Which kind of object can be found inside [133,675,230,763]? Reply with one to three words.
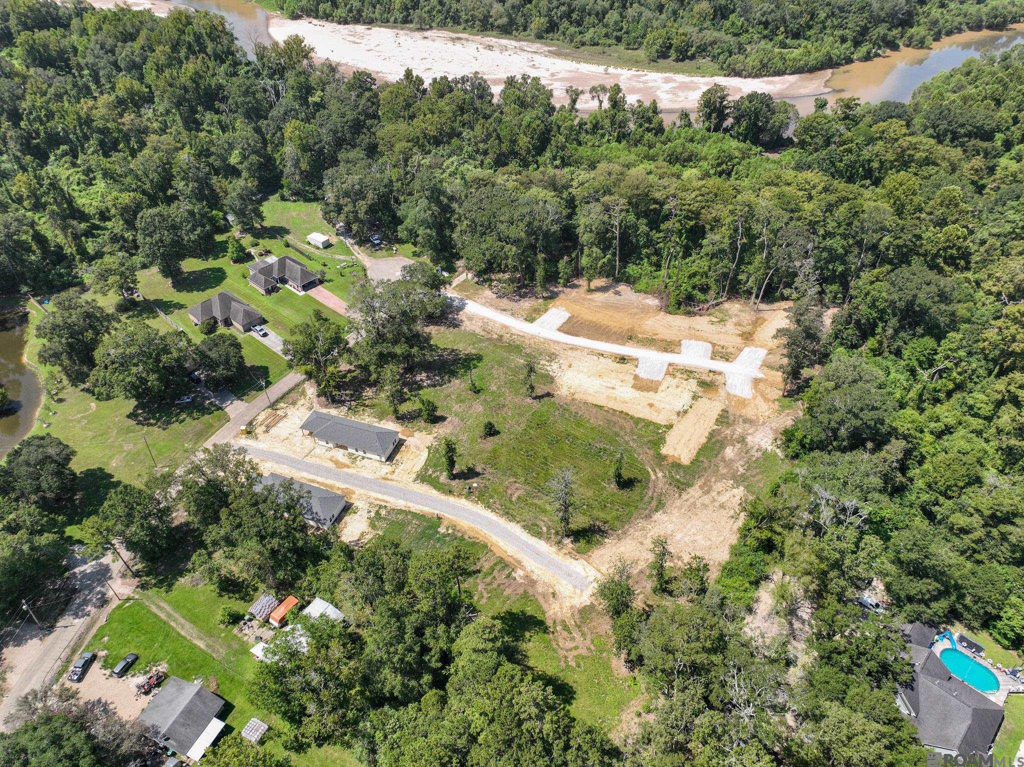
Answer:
house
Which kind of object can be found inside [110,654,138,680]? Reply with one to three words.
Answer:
car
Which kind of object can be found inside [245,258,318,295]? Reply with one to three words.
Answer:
house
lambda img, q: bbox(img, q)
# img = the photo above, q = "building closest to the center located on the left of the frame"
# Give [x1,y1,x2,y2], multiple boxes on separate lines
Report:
[299,409,401,463]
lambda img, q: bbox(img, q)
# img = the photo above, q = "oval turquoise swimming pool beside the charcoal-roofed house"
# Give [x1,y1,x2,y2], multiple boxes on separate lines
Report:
[931,642,1009,701]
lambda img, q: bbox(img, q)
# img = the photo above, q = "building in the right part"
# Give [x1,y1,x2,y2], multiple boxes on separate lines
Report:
[889,618,1004,767]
